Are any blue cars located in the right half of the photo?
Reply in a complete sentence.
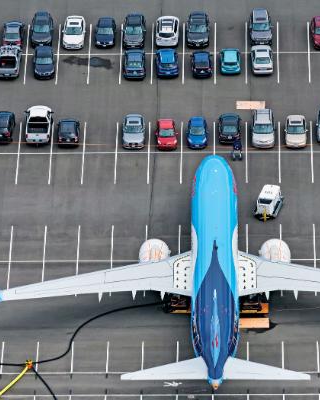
Yes, I can see a blue car in the right half of the photo.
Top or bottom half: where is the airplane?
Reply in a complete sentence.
You can find the airplane in the bottom half.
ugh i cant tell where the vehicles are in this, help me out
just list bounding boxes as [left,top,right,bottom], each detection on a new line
[219,47,243,74]
[30,9,55,46]
[310,15,320,49]
[0,42,23,77]
[121,47,148,78]
[248,8,274,45]
[56,117,82,148]
[250,107,278,148]
[2,16,27,45]
[283,112,309,148]
[185,12,211,47]
[154,15,180,46]
[61,15,87,49]
[249,43,274,74]
[121,113,148,149]
[122,11,147,47]
[93,15,118,47]
[154,116,180,151]
[216,110,243,146]
[185,114,210,149]
[155,47,180,76]
[32,45,57,79]
[26,105,54,145]
[0,111,16,144]
[190,50,215,77]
